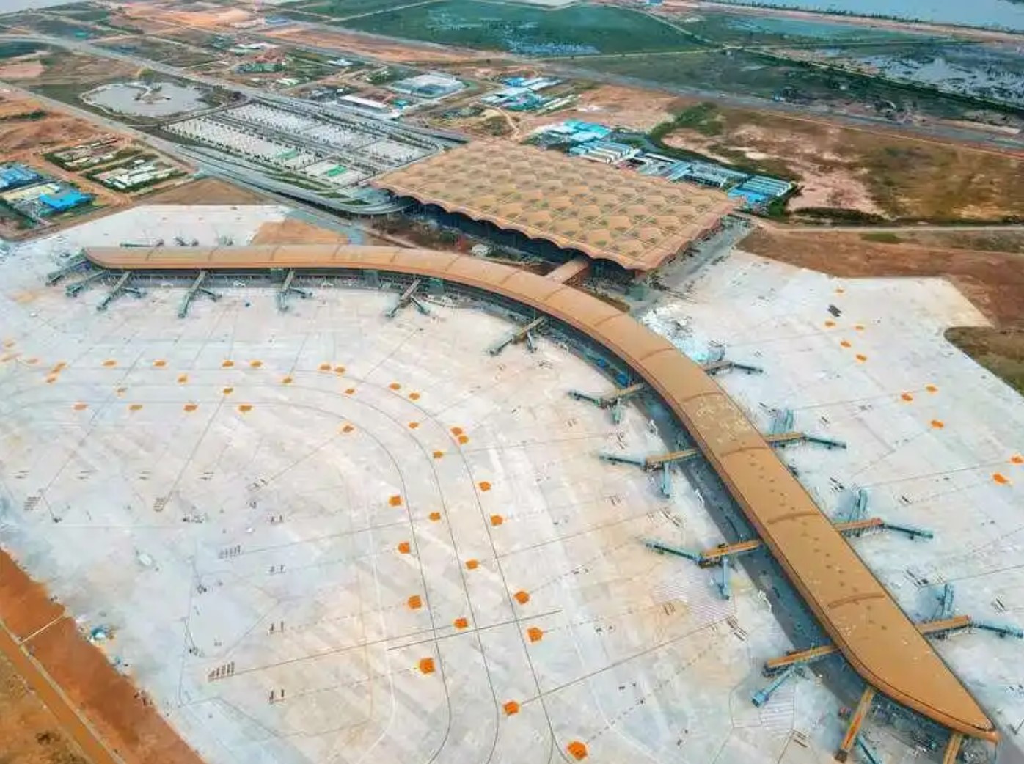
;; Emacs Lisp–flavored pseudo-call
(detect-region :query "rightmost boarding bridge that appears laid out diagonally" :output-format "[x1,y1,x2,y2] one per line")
[929,728,966,764]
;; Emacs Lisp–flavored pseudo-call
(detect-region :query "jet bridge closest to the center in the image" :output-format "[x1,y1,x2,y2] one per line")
[492,315,549,357]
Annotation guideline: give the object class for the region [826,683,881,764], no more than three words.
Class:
jet bridge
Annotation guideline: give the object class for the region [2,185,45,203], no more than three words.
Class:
shed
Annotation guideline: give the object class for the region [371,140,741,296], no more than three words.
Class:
building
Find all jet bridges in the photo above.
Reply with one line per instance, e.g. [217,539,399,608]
[702,348,762,378]
[826,683,881,764]
[46,260,96,287]
[176,236,199,245]
[917,584,1024,643]
[387,278,431,319]
[764,411,847,454]
[279,269,313,314]
[929,728,966,764]
[179,271,221,320]
[569,382,646,425]
[66,269,113,297]
[492,315,549,357]
[97,270,142,311]
[599,448,703,499]
[644,539,769,601]
[751,642,842,708]
[833,490,934,544]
